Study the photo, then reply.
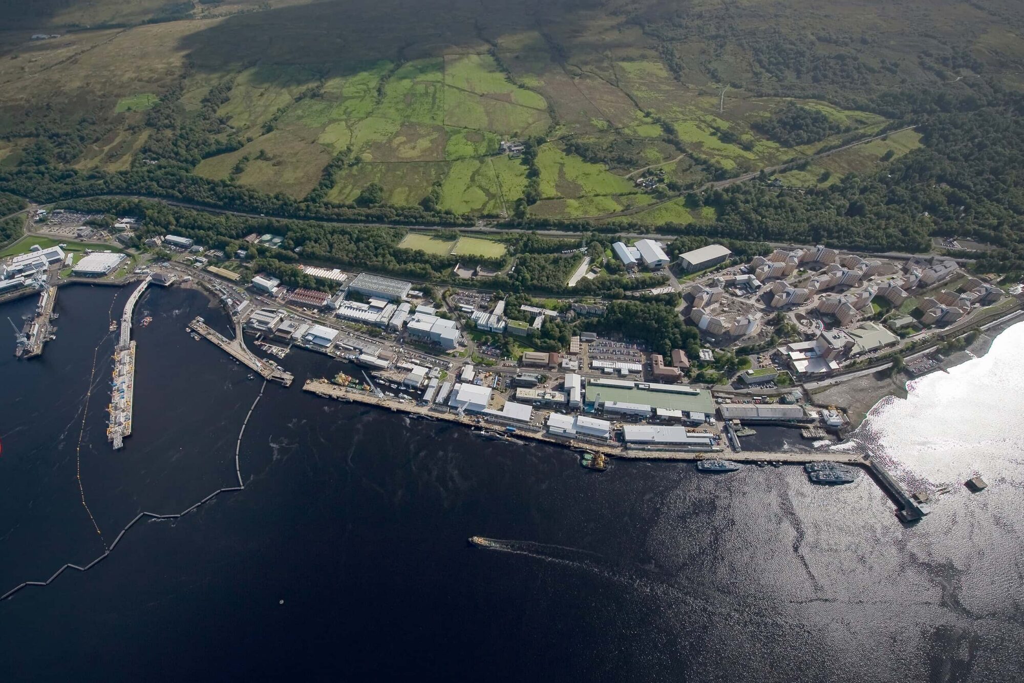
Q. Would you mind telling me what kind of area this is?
port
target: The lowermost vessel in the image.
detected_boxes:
[468,533,491,546]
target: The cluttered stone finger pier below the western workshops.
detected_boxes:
[24,286,58,359]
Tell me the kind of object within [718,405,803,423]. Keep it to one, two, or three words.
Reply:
building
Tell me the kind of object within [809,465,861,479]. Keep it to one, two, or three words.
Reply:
ship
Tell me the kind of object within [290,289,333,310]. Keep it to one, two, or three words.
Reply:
building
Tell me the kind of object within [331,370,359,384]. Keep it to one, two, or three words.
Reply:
ship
